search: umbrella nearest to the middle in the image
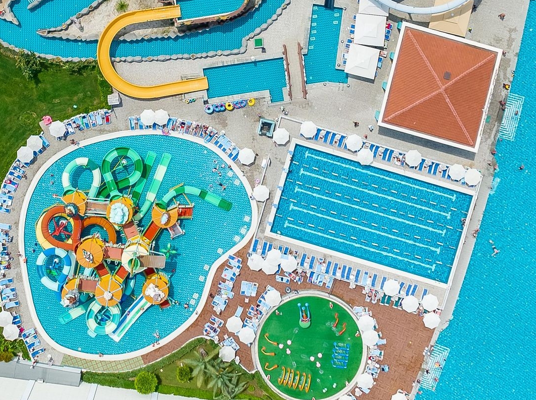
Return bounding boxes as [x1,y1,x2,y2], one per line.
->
[251,183,268,200]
